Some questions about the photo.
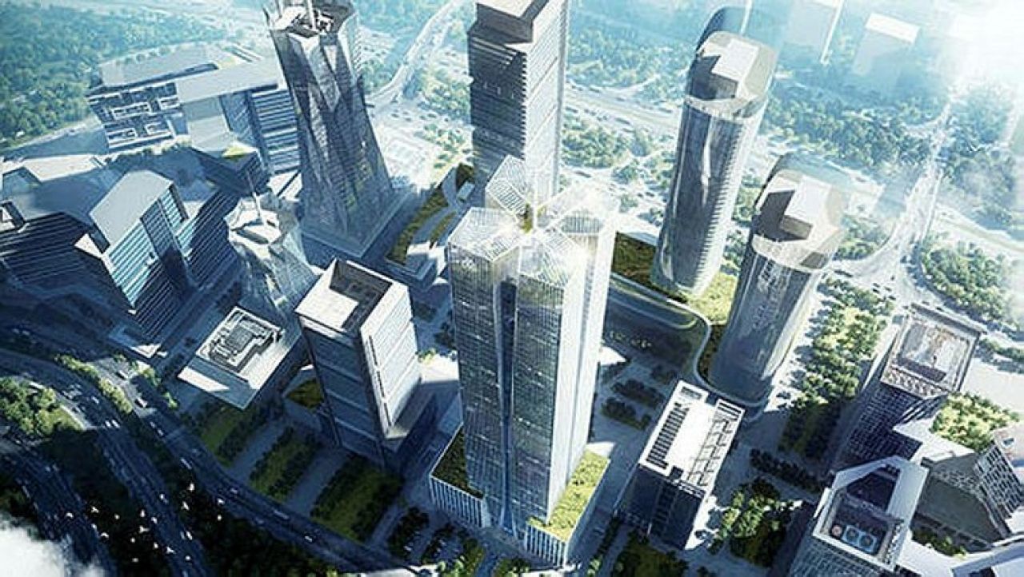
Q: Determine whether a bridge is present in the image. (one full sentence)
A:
Yes, the frame does contain a bridge.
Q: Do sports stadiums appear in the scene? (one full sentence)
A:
No, the photo shows no sports stadium.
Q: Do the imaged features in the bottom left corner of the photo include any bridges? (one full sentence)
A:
No, no bridge is visible in the bottom left corner of the photo.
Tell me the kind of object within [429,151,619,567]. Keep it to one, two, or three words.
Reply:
building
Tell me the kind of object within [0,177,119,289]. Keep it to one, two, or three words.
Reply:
building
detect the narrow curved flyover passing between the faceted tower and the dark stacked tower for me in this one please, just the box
[374,0,473,113]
